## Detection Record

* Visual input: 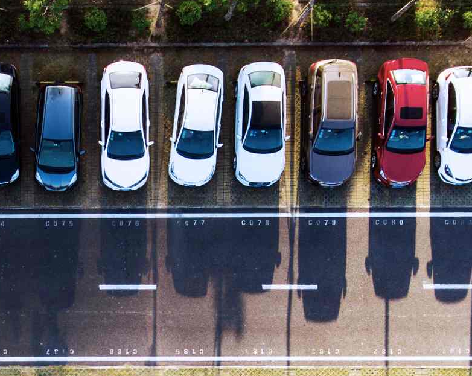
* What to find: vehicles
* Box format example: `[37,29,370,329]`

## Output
[31,83,84,193]
[437,66,472,186]
[306,59,367,186]
[237,62,293,186]
[375,58,436,187]
[97,61,153,190]
[0,63,20,186]
[169,63,223,188]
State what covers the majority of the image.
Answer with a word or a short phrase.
paved ground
